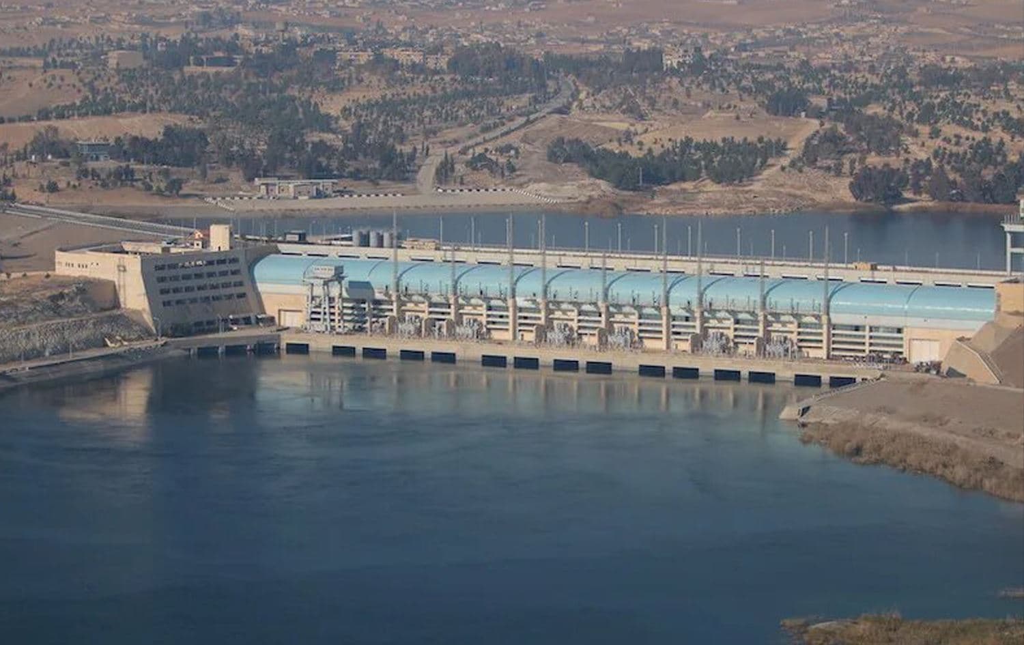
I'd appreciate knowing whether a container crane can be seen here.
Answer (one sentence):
Yes, the picture does show a container crane.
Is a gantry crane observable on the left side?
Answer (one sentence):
Yes, a gantry crane is visible on the left side.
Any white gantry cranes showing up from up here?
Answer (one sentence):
Yes, you can see a white gantry crane in this photo.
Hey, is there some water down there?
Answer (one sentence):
Yes, water shows up in the scene.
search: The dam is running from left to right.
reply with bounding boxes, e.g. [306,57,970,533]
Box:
[266,236,1024,289]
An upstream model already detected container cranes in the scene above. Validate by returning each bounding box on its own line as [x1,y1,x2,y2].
[299,261,352,334]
